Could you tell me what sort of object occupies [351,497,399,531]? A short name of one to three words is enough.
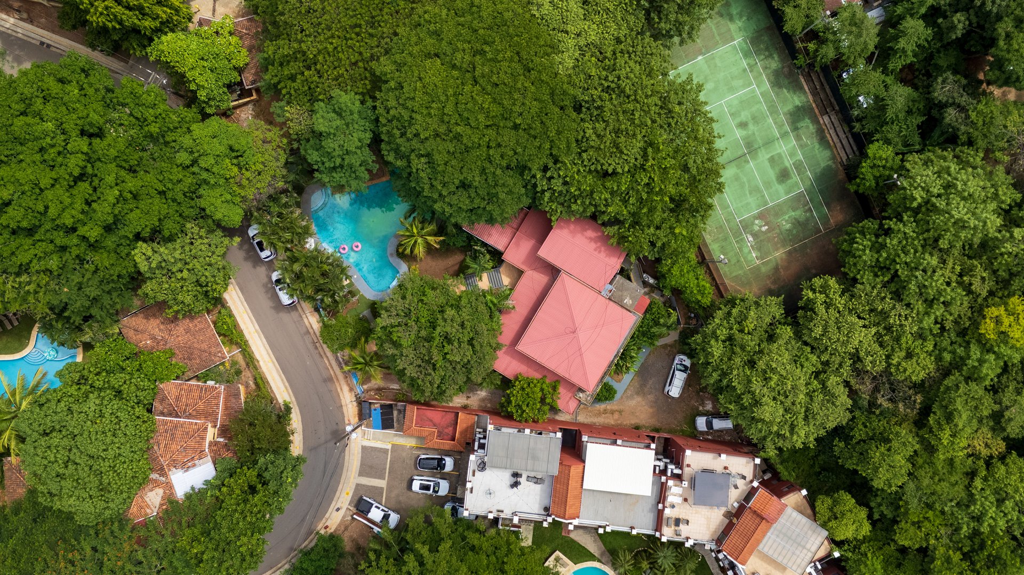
vehicle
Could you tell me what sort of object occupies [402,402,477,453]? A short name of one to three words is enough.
building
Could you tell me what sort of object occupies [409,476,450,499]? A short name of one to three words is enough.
car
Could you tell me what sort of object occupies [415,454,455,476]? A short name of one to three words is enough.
car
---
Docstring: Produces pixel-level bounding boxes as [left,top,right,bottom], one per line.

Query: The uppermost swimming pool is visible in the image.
[300,173,417,301]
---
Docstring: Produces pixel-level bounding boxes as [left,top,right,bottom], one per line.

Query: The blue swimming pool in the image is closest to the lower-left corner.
[0,323,84,415]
